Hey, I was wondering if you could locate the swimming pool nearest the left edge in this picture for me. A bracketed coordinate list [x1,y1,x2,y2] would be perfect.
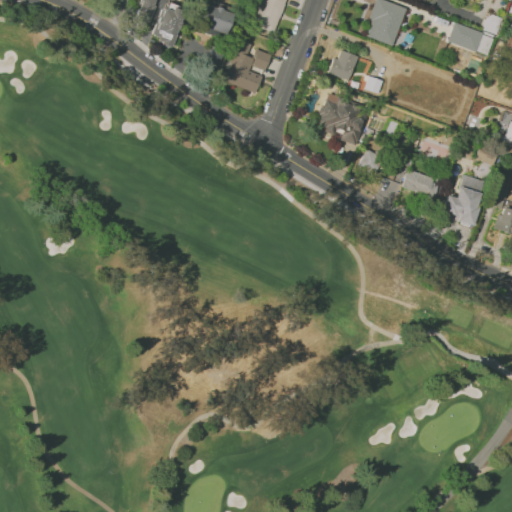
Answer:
[307,93,320,114]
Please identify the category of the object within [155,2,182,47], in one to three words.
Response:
house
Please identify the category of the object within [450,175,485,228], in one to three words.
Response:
house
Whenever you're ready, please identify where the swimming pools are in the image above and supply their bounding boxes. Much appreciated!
[307,93,320,114]
[404,32,414,44]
